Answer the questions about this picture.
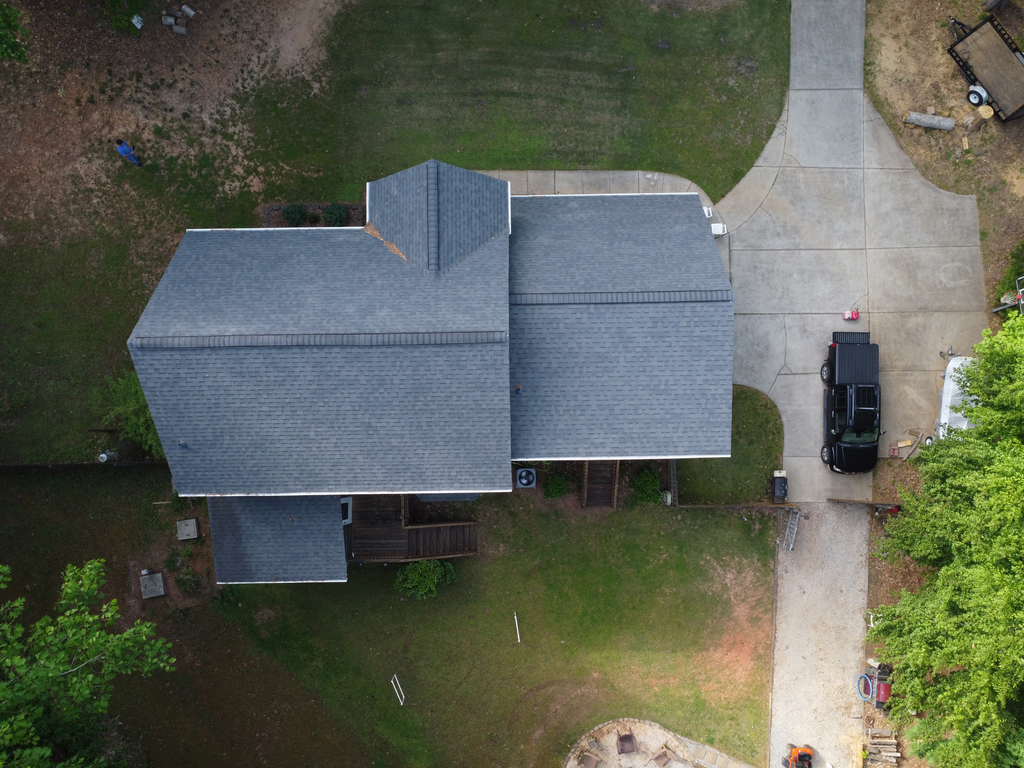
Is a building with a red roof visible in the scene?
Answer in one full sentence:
No, there isn't any building with a red roof down there.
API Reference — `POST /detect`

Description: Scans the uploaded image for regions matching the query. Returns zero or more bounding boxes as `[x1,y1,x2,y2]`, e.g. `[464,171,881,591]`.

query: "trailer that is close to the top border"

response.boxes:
[942,18,1024,136]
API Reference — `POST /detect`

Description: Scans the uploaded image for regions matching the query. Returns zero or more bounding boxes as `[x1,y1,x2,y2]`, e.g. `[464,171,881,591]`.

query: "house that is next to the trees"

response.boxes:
[128,160,733,586]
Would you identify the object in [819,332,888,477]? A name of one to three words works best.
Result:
truck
